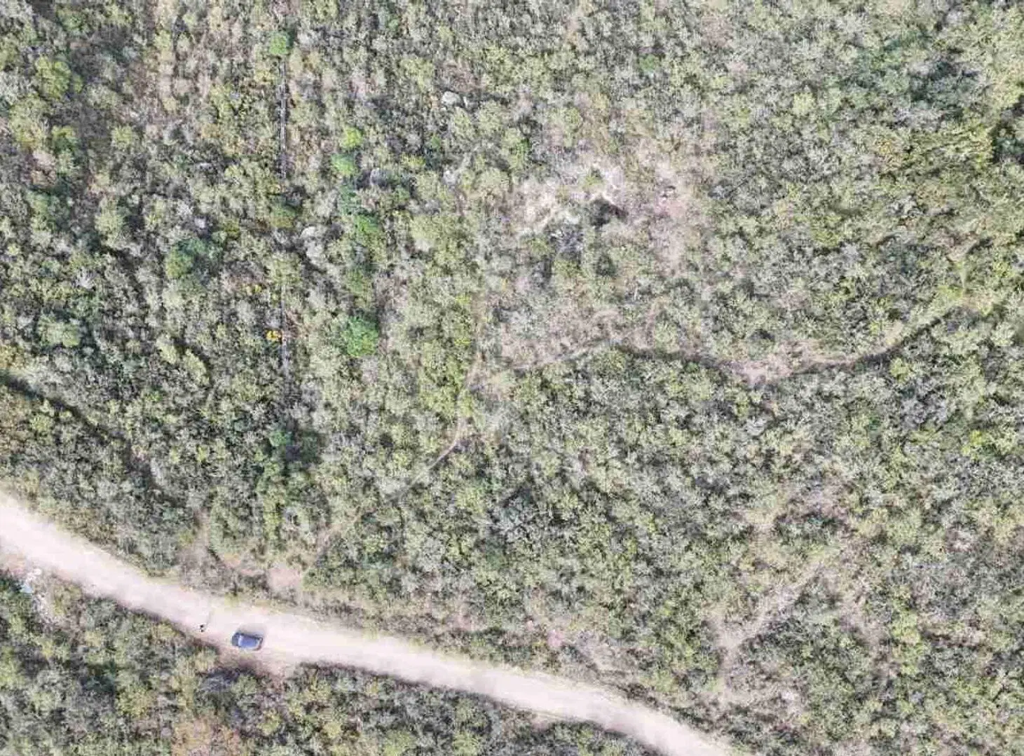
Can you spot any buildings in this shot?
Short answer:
No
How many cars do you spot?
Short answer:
1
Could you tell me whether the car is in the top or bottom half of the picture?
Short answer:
bottom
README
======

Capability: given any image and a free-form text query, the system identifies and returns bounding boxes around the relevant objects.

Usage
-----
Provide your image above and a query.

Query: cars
[231,630,264,650]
